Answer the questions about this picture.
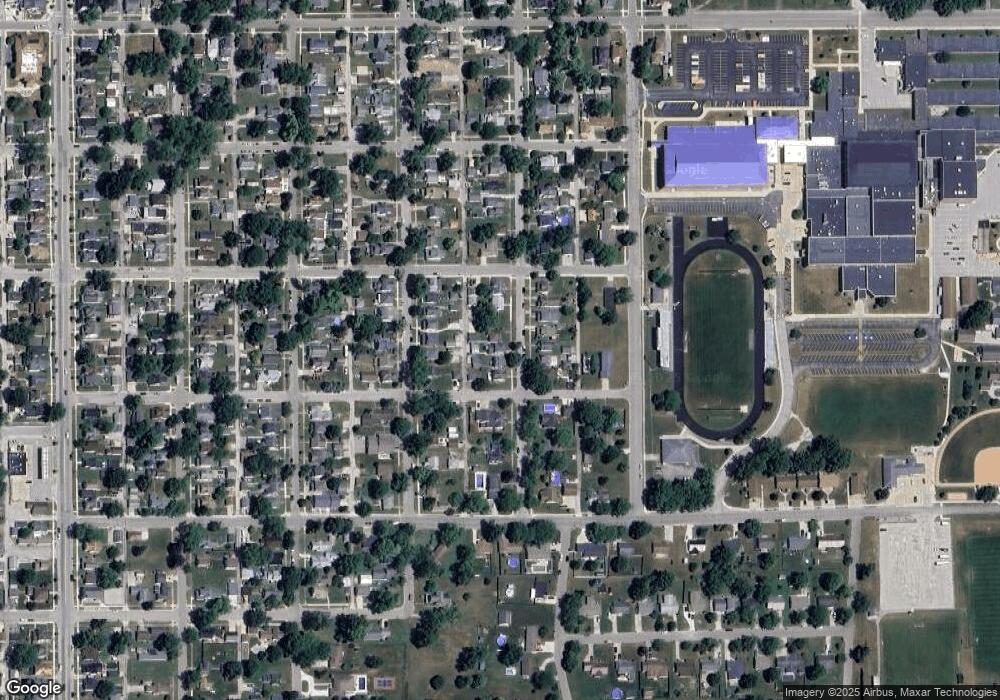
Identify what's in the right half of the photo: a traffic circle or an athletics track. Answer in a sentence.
Looking in the right half of the photo, you will find an athletics track.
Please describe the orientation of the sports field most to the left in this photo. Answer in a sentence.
The sports field most to the left is oriented vertically.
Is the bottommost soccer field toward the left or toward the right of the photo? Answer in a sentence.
The bottommost soccer field sits on the right side.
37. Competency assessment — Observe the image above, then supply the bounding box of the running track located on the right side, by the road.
[673,217,765,439]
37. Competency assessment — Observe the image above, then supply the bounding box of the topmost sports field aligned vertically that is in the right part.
[684,249,754,429]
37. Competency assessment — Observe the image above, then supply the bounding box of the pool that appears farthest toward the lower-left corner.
[355,673,368,691]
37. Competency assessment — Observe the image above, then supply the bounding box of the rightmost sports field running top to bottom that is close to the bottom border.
[962,528,1000,677]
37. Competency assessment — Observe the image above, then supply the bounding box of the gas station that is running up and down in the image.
[8,434,26,476]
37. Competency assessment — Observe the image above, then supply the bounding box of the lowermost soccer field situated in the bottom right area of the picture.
[880,612,957,700]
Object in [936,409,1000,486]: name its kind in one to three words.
baseball field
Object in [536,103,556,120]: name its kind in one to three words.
house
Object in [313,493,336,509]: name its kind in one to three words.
house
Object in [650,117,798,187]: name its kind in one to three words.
building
